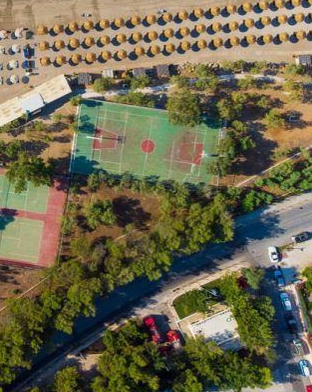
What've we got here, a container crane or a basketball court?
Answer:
basketball court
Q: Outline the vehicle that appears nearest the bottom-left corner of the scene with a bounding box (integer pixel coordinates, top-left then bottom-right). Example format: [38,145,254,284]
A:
[140,315,162,344]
